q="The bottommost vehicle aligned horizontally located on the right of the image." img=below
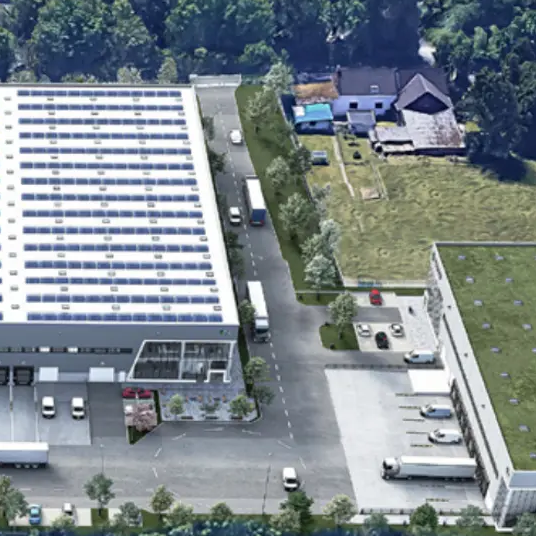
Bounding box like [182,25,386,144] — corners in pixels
[382,454,484,481]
